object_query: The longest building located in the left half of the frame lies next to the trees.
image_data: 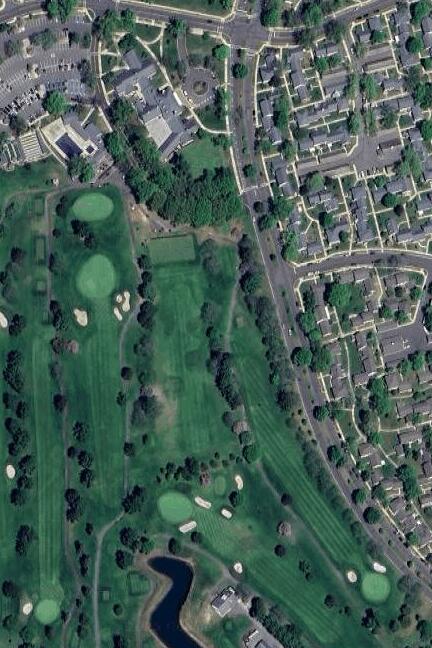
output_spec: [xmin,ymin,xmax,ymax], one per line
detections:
[116,49,200,161]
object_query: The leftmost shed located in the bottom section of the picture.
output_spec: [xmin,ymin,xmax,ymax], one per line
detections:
[212,588,235,617]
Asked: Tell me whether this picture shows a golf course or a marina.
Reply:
golf course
